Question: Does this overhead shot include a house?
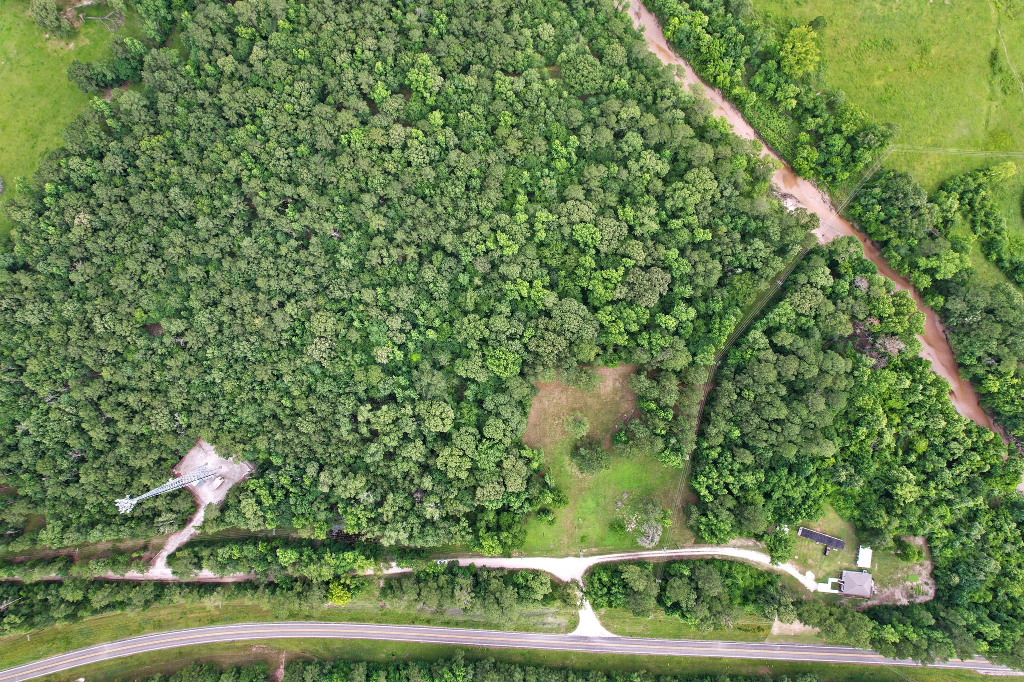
Yes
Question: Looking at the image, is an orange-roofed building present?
No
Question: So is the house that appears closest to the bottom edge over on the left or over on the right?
right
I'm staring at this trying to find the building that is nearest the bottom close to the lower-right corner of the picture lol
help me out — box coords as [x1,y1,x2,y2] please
[836,570,873,598]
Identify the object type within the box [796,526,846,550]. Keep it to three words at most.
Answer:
house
